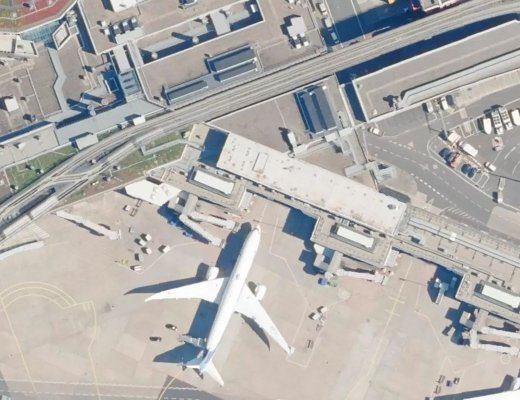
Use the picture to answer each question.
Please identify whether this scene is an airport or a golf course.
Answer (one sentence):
What you see here is an airport.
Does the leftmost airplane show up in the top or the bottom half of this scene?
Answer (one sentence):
It is in the bottom half that the leftmost airplane appears.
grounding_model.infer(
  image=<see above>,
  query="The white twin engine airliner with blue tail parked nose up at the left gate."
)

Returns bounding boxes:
[146,226,291,385]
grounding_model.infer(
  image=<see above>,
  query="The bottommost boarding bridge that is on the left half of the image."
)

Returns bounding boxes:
[0,237,50,260]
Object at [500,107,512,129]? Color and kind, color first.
white vehicle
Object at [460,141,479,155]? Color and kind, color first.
white vehicle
